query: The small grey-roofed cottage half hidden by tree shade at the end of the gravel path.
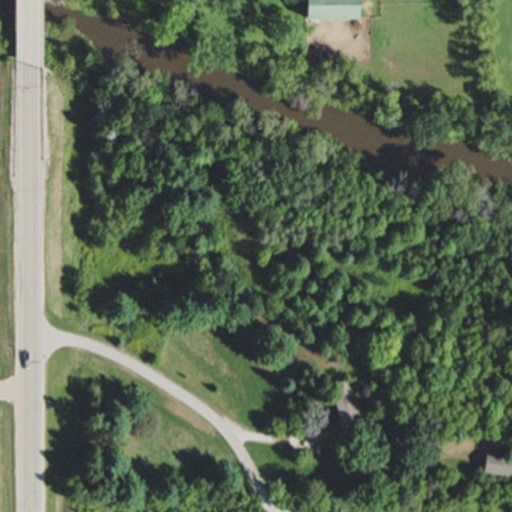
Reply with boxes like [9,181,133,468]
[331,382,360,424]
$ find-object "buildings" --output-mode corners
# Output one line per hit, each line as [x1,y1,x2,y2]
[309,0,362,19]
[331,382,360,424]
[484,453,512,475]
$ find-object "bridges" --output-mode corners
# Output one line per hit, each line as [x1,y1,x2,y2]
[16,0,48,69]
